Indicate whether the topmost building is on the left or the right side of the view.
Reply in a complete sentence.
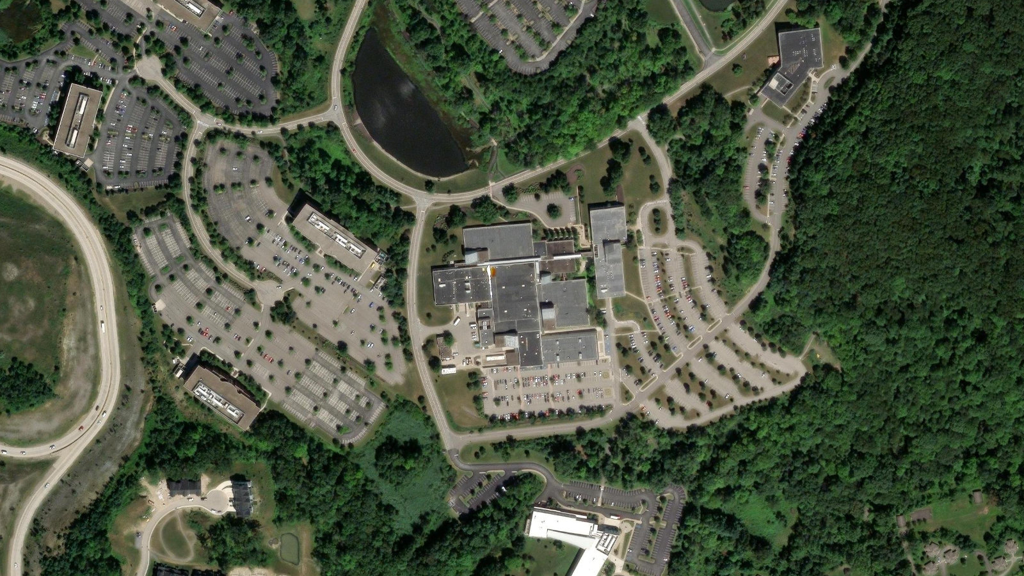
The topmost building sits on the left side.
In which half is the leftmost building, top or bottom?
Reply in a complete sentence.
The top half of the photo is where the leftmost building is.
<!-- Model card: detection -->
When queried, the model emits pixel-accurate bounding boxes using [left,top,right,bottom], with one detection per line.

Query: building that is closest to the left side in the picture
[53,83,104,158]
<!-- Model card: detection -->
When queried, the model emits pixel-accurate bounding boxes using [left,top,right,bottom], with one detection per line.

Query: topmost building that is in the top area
[159,0,222,33]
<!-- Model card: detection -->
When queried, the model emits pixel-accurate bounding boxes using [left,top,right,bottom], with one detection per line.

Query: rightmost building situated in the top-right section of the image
[761,28,824,109]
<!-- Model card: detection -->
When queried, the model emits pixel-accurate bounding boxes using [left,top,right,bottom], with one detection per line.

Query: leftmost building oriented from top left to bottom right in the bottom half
[184,365,261,431]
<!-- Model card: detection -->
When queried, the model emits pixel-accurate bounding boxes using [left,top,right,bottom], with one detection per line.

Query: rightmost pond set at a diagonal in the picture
[352,27,471,178]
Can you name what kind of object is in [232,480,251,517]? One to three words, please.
house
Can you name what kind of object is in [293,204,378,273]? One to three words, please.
building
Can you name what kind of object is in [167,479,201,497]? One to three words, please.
house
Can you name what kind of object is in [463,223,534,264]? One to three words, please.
building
